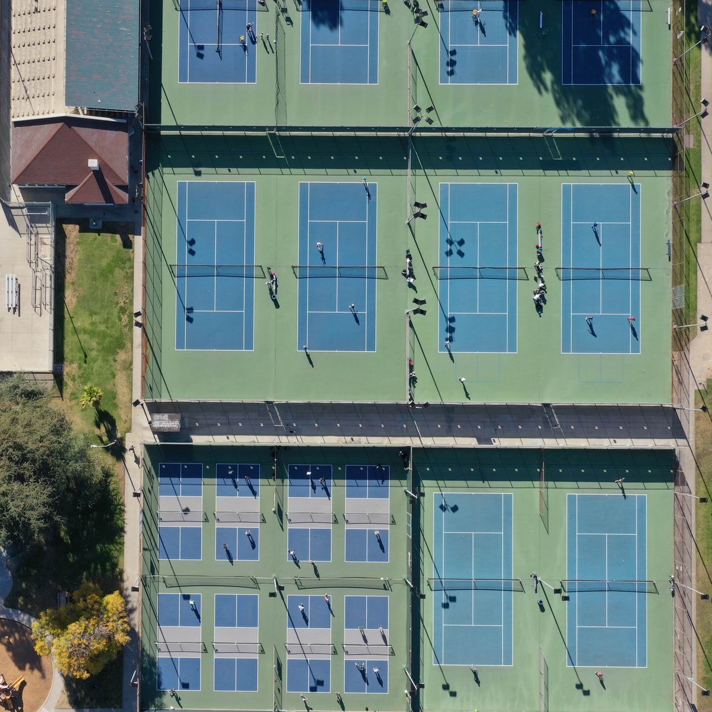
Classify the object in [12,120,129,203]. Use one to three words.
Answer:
house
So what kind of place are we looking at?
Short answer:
sports ground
